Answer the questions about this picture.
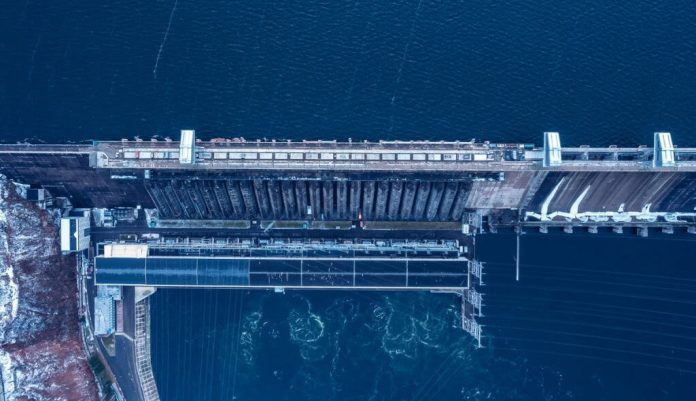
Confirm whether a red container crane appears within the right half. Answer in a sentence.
No, there's no red container crane to be seen within the right half.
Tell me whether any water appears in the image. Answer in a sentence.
Yes, there is water in the image.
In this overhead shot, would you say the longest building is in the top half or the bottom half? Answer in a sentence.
The longest building sits in the bottom half of the picture.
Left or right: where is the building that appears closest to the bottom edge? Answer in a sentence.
The building that appears closest to the bottom edge is on the left side of the image.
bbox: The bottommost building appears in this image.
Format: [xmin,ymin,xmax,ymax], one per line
[94,296,119,334]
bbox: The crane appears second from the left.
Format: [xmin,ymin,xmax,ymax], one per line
[544,130,561,168]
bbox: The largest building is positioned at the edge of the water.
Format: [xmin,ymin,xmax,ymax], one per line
[94,249,468,289]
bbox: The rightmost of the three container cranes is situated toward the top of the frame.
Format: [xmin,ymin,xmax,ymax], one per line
[652,130,674,168]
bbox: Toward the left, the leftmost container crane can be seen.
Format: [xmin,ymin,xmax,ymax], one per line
[180,130,197,168]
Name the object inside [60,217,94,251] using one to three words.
building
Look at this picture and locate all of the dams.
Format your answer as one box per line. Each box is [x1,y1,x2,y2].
[0,137,696,235]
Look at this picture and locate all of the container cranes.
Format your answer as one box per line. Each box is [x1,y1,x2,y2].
[180,130,197,168]
[544,130,561,168]
[652,130,674,168]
